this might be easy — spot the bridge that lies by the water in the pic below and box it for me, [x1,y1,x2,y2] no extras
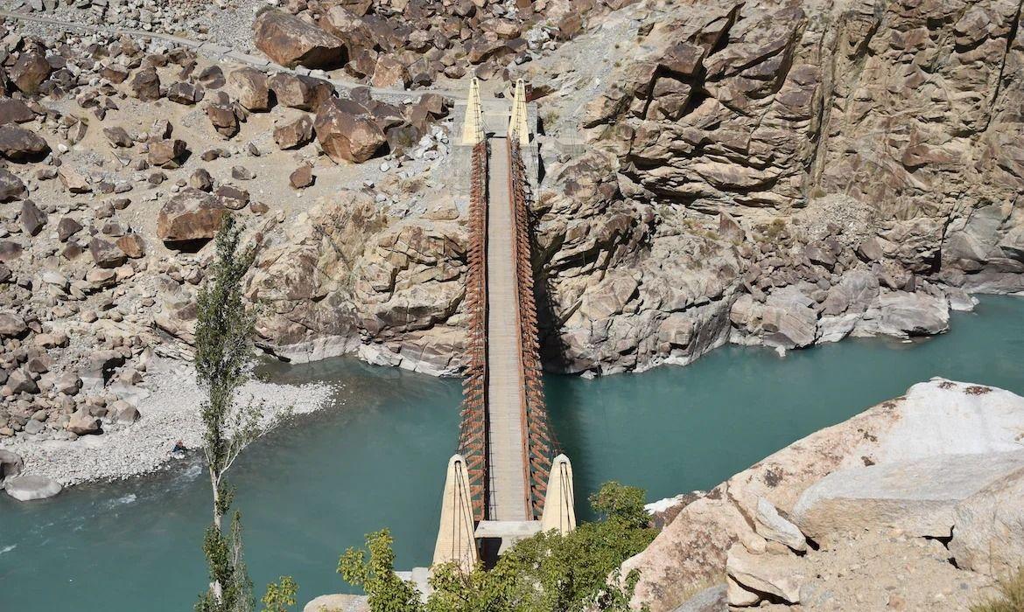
[426,75,578,608]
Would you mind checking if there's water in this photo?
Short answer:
Yes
